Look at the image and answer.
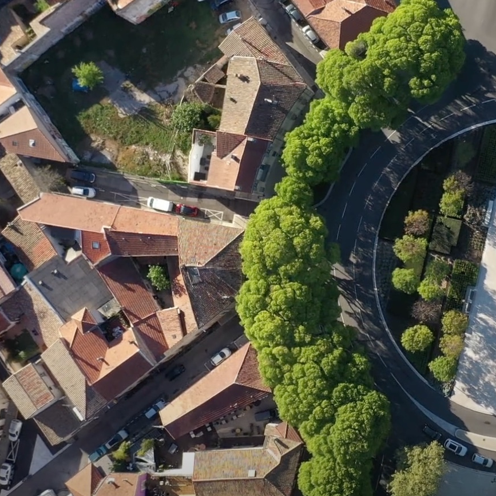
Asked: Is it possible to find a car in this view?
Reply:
Yes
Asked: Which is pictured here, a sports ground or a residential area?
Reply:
residential area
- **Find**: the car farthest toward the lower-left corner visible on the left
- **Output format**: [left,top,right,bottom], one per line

[0,461,15,487]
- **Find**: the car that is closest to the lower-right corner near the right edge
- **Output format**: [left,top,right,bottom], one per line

[471,453,493,468]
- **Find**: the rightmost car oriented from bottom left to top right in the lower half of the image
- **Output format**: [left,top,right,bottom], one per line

[209,347,233,365]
